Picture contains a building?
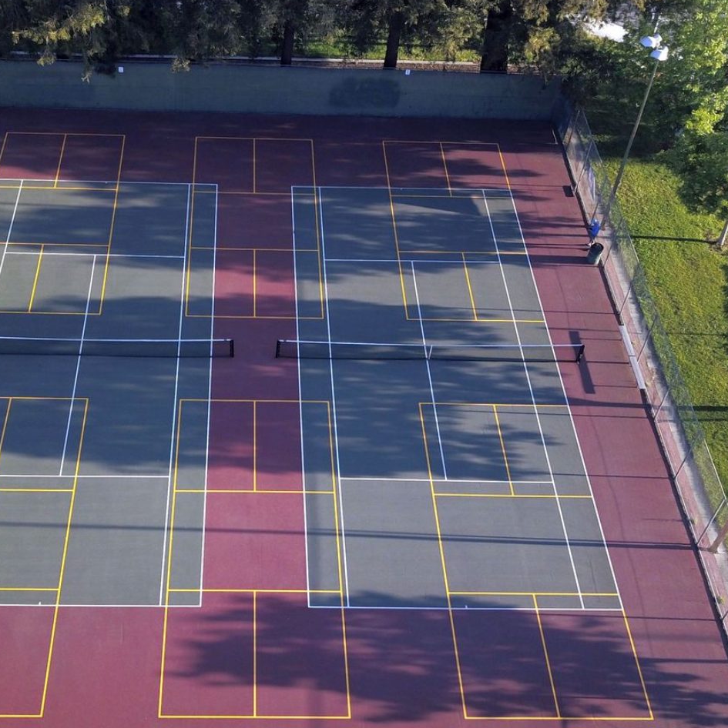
No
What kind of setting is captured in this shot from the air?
sports ground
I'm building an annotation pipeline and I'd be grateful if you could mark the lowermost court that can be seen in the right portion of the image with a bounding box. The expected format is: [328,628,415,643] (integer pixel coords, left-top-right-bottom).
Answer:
[420,404,652,720]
